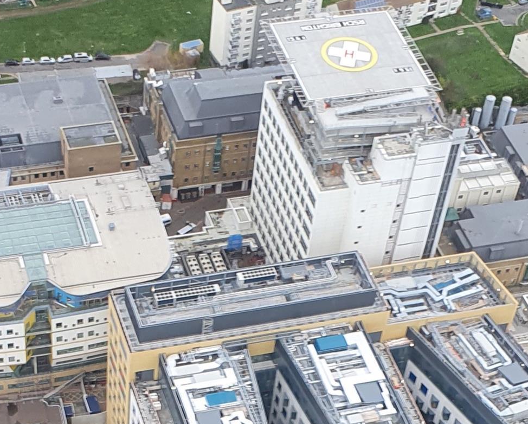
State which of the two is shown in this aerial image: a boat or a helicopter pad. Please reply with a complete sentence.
Of the two, only a helicopter pad appears.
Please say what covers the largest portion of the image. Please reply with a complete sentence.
What you mostly see from above here is buildings.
